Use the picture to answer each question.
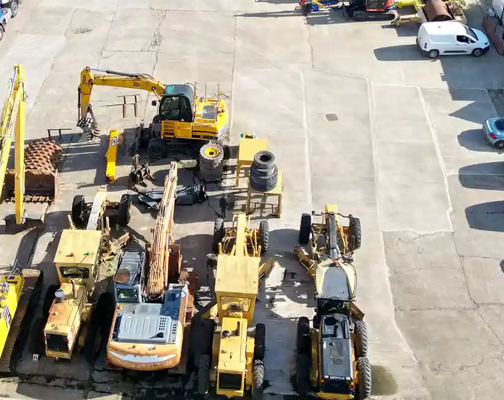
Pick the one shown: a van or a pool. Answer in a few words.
van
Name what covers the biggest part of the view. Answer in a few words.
paved ground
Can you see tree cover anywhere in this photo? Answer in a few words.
No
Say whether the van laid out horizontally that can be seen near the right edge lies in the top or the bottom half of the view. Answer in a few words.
top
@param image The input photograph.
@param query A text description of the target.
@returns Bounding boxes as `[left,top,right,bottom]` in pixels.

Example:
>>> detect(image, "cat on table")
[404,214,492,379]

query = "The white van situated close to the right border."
[416,20,494,57]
